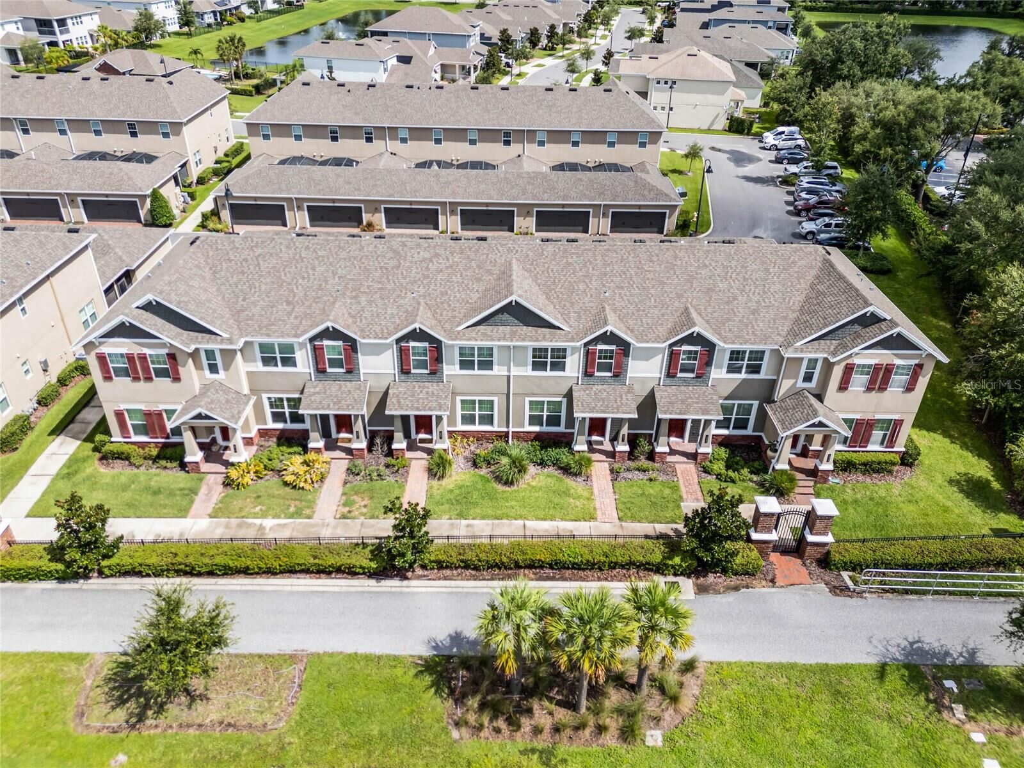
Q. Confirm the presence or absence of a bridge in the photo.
No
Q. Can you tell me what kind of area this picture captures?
residential area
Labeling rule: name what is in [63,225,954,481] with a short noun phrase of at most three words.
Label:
house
